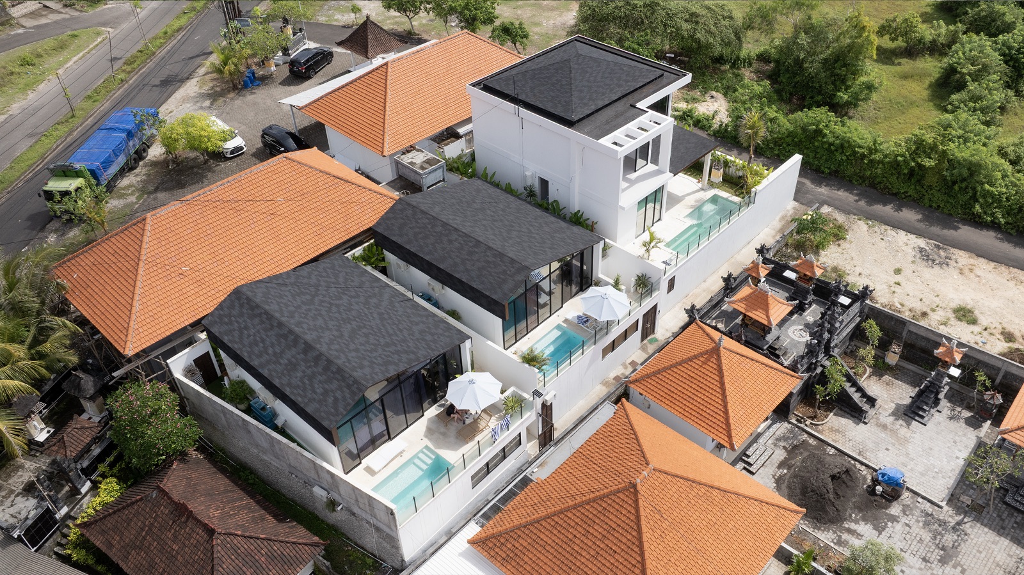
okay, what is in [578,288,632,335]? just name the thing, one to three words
umbrella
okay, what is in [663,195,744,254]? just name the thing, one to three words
swimming pool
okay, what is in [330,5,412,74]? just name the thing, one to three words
building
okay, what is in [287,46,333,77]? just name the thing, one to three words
car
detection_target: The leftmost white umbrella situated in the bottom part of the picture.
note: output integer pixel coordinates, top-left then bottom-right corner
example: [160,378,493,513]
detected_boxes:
[441,371,505,417]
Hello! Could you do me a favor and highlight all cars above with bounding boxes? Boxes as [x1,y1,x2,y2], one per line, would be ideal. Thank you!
[260,121,312,161]
[287,46,333,77]
[203,114,246,159]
